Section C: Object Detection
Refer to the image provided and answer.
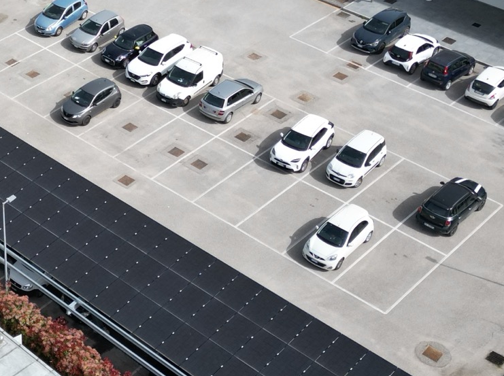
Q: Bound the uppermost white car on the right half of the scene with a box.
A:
[385,32,442,74]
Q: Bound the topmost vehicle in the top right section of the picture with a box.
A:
[353,4,413,52]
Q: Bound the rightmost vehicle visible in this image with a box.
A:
[465,65,504,109]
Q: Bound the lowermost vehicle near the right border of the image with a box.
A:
[415,175,490,237]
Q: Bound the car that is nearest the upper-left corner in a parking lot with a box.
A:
[33,0,94,36]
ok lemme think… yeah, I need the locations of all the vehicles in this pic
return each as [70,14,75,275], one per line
[196,75,267,124]
[304,203,377,271]
[419,47,475,90]
[353,4,413,52]
[68,7,129,52]
[465,65,504,109]
[57,74,123,126]
[154,44,226,106]
[125,33,194,86]
[385,32,442,74]
[327,127,393,187]
[415,175,490,237]
[271,113,342,172]
[33,0,94,36]
[101,21,162,67]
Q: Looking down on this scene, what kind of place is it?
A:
parking lot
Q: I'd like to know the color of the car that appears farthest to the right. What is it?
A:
white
